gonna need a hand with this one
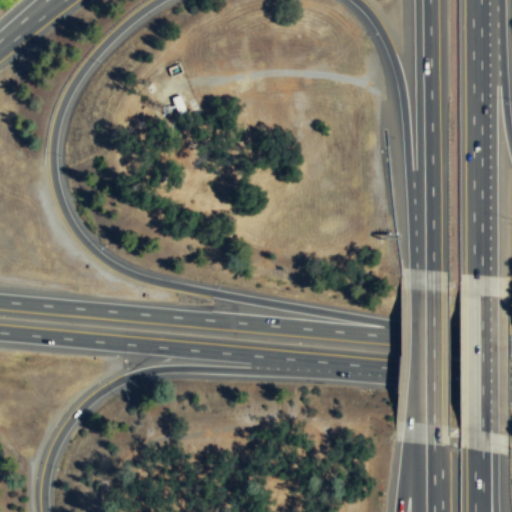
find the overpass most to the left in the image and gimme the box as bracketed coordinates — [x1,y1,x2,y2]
[396,270,450,446]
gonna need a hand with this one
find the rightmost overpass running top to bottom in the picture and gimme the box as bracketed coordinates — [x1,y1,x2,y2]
[460,274,510,456]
